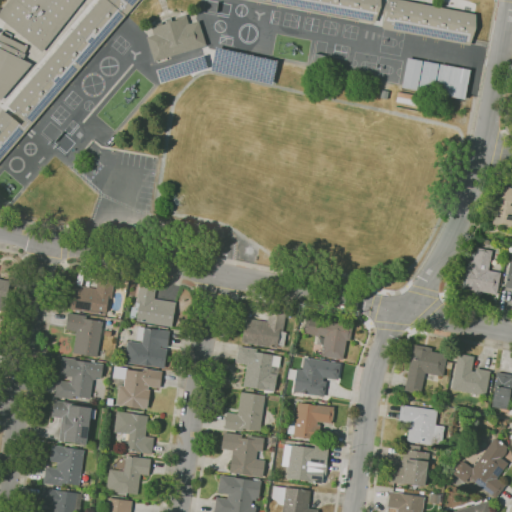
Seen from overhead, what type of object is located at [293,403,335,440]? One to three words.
house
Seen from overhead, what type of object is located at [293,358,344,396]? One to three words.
house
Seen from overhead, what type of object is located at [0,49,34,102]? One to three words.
building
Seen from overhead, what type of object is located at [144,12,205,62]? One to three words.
building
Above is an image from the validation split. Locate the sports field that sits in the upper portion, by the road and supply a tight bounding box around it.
[156,69,464,291]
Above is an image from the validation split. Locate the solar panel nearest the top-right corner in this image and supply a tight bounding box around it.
[394,22,469,42]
